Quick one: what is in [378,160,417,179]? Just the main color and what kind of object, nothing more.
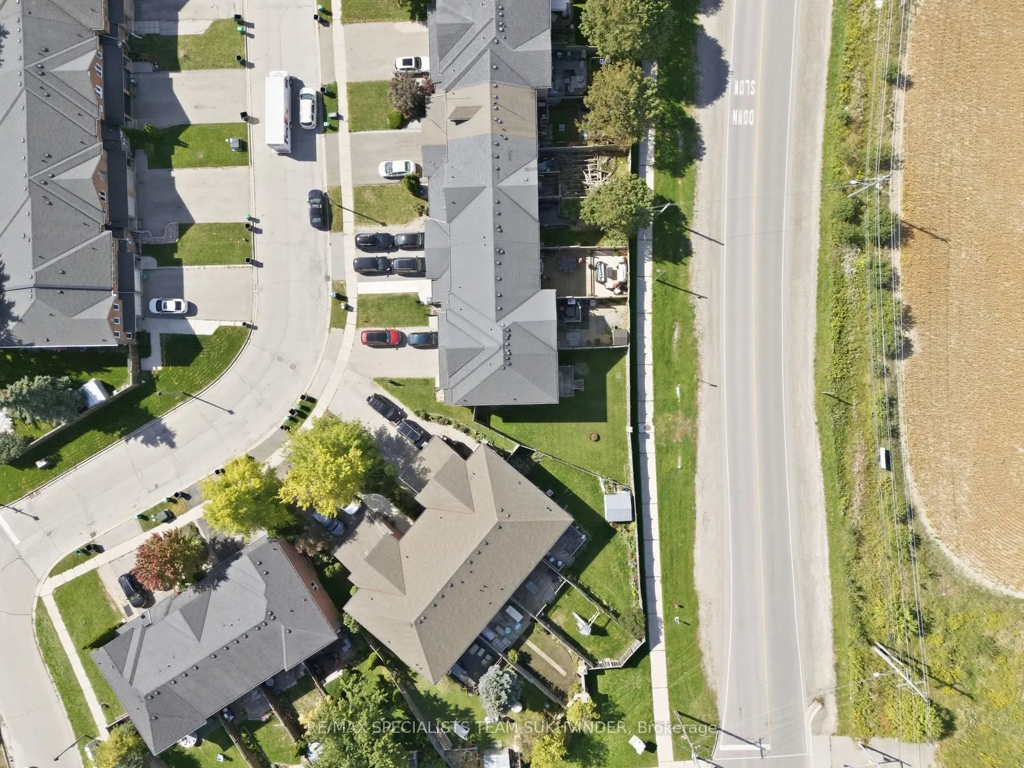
white car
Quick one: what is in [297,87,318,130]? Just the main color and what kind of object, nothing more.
white car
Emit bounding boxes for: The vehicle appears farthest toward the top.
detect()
[394,54,429,76]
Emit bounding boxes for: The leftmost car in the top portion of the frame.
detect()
[150,297,190,316]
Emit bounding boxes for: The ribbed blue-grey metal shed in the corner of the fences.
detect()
[604,490,632,522]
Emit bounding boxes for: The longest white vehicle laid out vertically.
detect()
[265,71,291,156]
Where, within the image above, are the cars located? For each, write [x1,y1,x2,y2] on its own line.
[119,570,149,608]
[306,190,326,229]
[353,255,392,275]
[392,256,426,275]
[406,330,438,349]
[297,87,318,130]
[309,506,347,538]
[378,160,417,179]
[355,231,394,251]
[150,297,190,316]
[361,328,402,347]
[396,418,433,448]
[366,391,406,424]
[394,54,429,76]
[394,231,425,250]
